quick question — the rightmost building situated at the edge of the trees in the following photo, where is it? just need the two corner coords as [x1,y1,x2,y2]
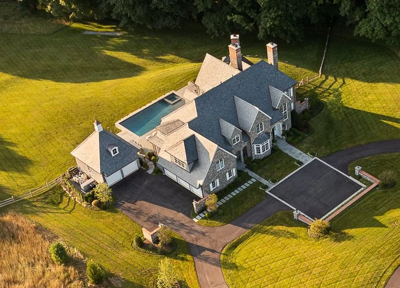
[143,35,296,197]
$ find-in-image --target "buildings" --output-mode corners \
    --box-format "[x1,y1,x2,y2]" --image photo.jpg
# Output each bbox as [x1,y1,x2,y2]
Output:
[143,35,296,197]
[68,115,141,186]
